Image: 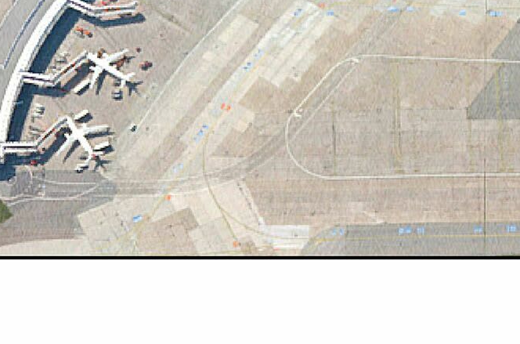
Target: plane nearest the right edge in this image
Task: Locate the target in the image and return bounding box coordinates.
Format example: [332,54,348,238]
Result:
[89,53,135,91]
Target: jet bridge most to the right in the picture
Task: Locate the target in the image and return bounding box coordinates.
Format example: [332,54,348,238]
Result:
[68,0,139,21]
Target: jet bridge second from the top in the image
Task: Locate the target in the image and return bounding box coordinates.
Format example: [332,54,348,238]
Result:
[24,52,91,89]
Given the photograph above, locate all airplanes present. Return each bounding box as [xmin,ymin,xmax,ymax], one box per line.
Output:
[58,117,111,160]
[89,53,135,91]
